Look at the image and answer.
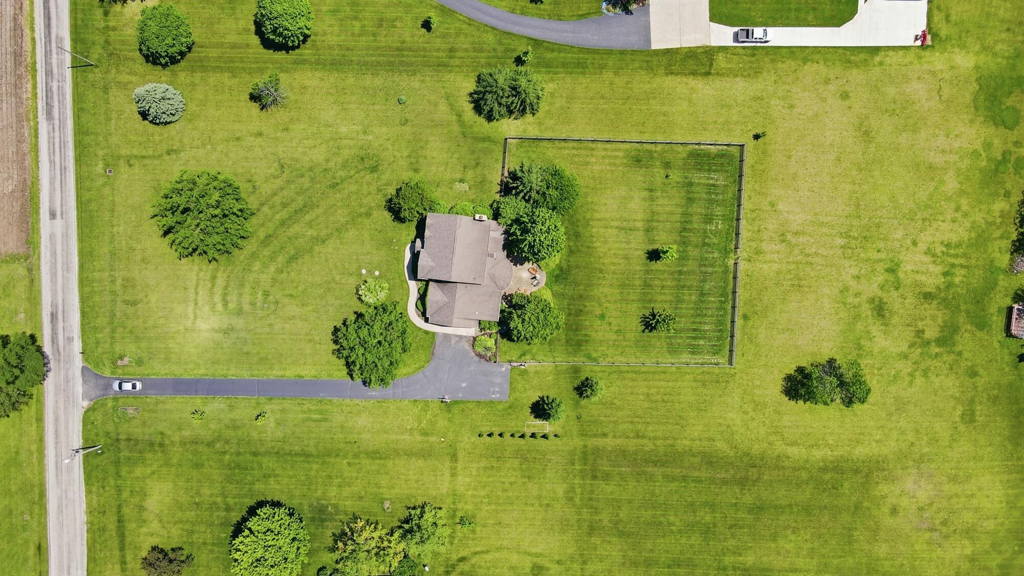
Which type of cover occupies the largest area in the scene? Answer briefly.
grass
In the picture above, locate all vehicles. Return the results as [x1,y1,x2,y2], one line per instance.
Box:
[736,26,773,43]
[113,379,144,393]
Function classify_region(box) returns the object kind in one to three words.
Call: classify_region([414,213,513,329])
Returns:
house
